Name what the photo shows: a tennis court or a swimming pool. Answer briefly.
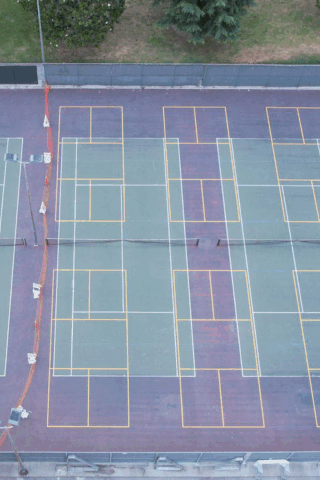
tennis court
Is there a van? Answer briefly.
No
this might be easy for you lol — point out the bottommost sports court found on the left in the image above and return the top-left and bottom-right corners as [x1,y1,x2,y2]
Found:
[46,270,128,426]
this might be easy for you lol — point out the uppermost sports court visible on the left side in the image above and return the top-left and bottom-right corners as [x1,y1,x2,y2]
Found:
[55,107,124,222]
